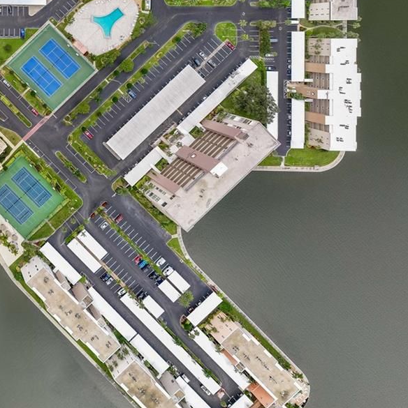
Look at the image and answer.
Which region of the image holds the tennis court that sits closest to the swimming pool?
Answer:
top left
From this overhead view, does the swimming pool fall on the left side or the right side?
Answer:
left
